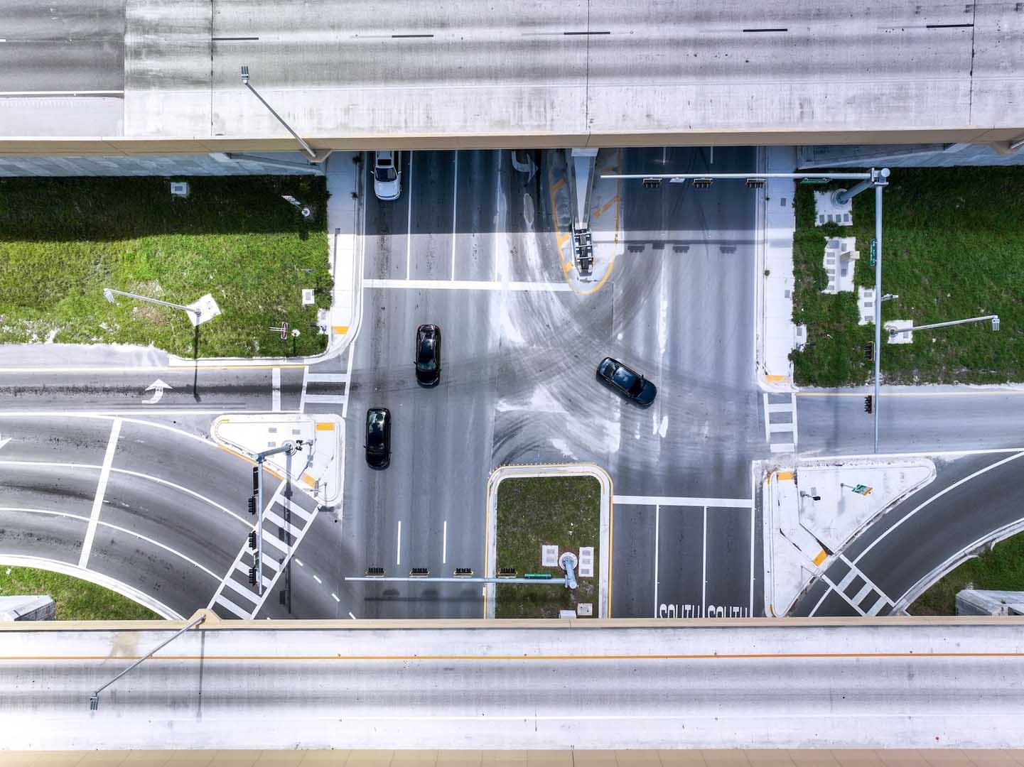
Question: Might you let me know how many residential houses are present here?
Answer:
0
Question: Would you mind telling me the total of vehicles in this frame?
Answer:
four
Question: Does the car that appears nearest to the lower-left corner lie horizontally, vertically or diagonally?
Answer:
vertically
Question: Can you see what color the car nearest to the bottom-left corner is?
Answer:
black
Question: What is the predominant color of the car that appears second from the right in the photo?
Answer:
black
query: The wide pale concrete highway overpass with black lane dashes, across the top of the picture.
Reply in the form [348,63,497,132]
[0,0,1024,163]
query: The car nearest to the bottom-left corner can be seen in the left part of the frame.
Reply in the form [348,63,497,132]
[363,409,393,469]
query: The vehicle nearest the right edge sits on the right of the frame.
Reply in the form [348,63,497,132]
[596,360,655,405]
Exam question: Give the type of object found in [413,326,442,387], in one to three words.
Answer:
car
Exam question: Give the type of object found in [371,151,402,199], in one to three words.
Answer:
car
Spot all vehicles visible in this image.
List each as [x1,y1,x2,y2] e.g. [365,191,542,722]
[371,151,402,199]
[413,326,442,387]
[363,409,393,469]
[596,360,655,405]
